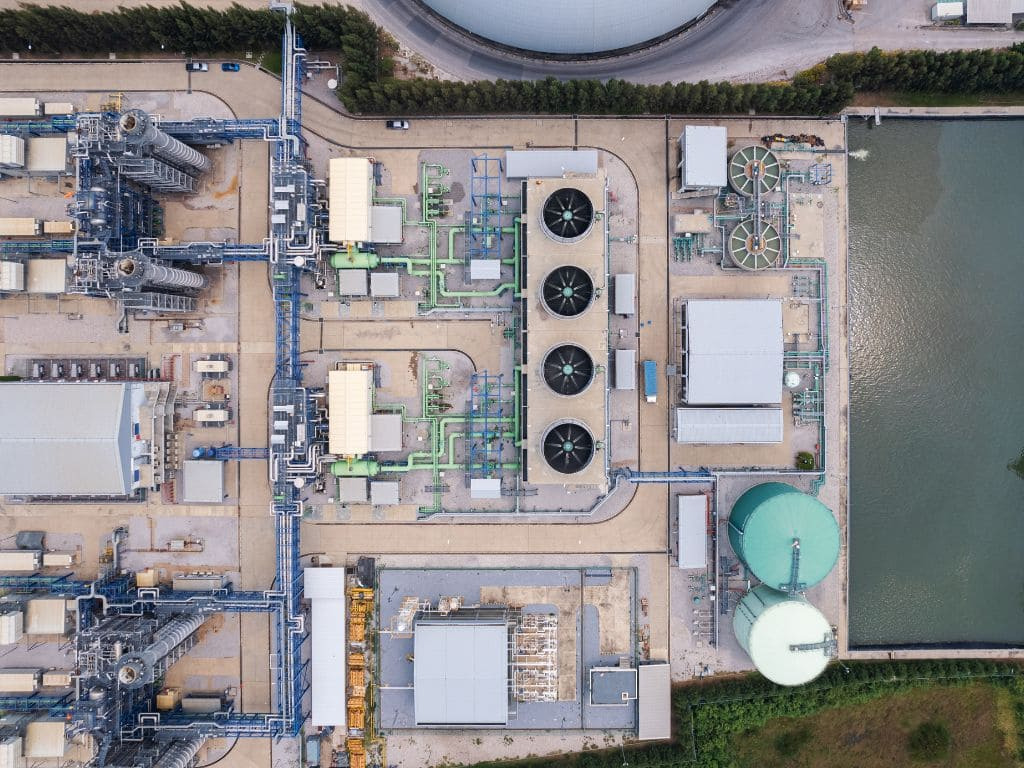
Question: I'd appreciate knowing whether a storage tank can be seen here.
Yes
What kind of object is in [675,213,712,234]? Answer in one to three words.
shed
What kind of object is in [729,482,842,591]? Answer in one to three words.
storage tank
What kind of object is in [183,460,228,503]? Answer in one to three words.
building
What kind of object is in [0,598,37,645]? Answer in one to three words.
house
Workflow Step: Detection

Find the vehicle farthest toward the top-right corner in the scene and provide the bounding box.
[642,360,657,403]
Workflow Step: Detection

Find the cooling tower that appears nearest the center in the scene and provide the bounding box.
[521,176,610,487]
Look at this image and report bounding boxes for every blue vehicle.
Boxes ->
[220,61,240,71]
[642,360,657,403]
